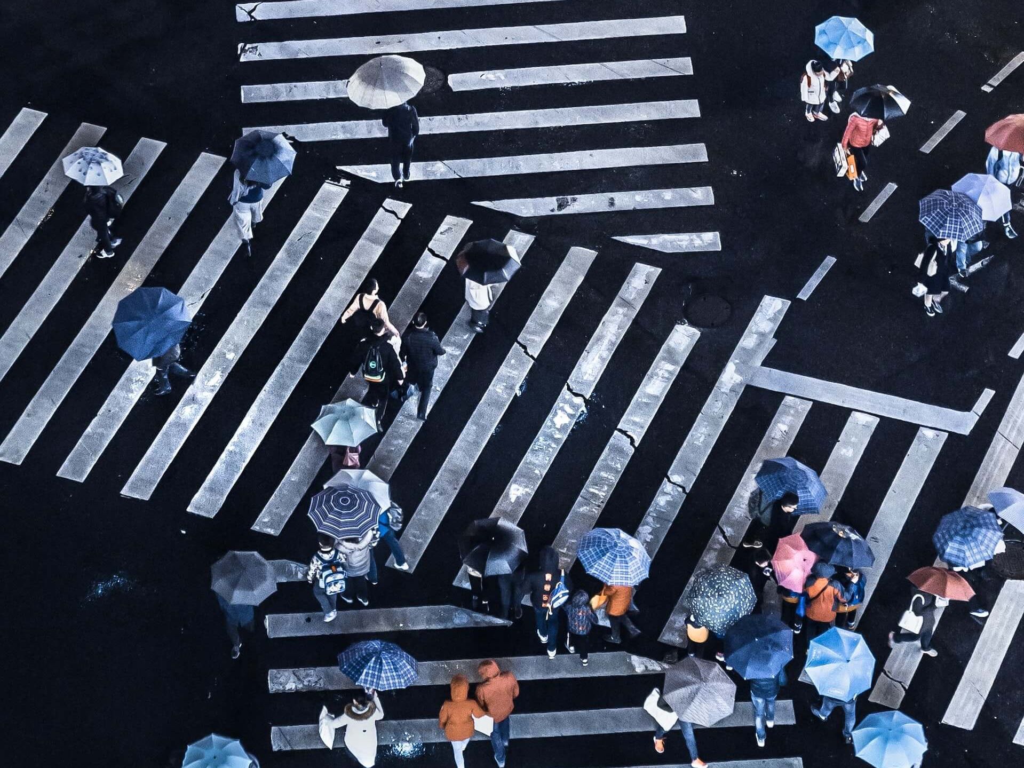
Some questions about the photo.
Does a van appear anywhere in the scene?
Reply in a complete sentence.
No, there is no van in the image.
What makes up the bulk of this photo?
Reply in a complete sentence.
What you mostly see from above here is paved ground.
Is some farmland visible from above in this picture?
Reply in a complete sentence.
No, the picture contains no farmland.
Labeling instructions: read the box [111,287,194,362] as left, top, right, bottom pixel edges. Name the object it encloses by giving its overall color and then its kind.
blue umbrella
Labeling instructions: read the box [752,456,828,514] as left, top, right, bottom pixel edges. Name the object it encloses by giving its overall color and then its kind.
blue umbrella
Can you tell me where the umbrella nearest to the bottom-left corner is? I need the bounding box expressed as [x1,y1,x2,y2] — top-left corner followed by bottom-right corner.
[182,734,251,768]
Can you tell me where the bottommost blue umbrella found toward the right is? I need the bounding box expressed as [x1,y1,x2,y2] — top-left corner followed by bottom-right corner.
[851,708,929,768]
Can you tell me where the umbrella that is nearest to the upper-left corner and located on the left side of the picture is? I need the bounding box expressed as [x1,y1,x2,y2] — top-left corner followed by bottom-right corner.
[61,145,126,220]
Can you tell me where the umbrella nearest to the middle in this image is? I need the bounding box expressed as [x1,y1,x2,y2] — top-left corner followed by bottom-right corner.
[454,235,521,294]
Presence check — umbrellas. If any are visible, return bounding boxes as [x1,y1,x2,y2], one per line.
[662,656,738,730]
[813,16,875,73]
[933,506,1005,569]
[686,565,758,634]
[307,488,378,541]
[752,456,828,514]
[577,528,651,596]
[211,550,278,612]
[460,518,528,579]
[984,112,1024,188]
[905,561,978,618]
[987,481,1024,556]
[111,287,194,362]
[722,612,796,683]
[851,708,929,768]
[182,734,251,768]
[337,638,419,704]
[801,516,876,572]
[229,130,297,192]
[347,57,426,139]
[802,626,877,703]
[312,397,379,471]
[955,173,1014,222]
[850,82,911,138]
[919,190,983,242]
[454,235,521,294]
[61,145,126,220]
